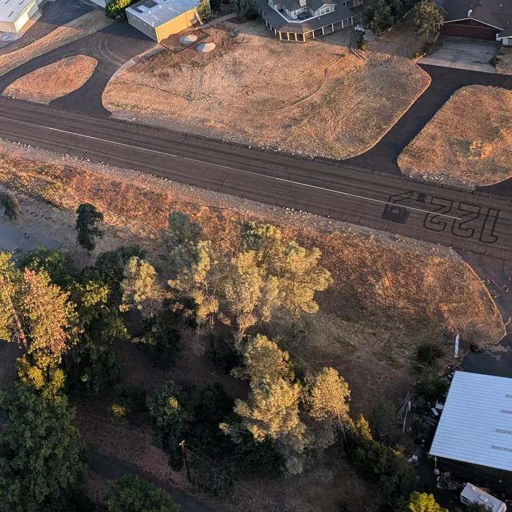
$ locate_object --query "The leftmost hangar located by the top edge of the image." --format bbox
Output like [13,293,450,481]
[0,0,36,36]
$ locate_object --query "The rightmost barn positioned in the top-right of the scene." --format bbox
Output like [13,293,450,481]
[438,0,512,64]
